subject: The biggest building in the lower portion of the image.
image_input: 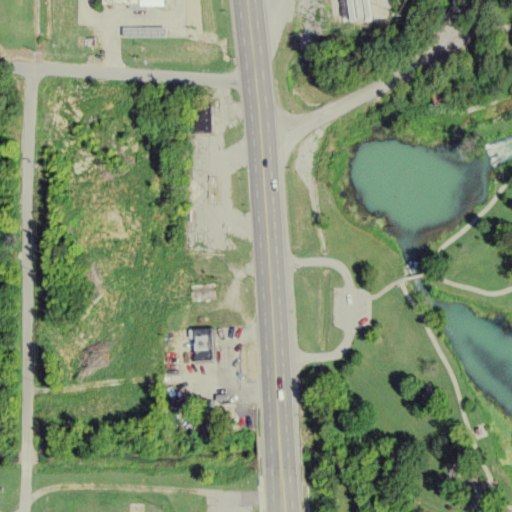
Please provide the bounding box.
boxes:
[189,328,212,362]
